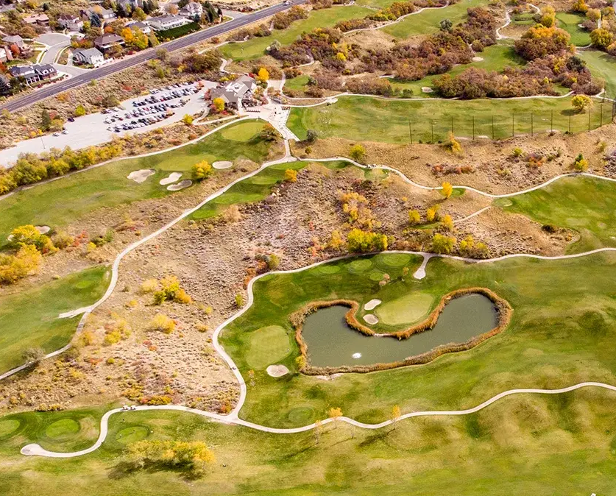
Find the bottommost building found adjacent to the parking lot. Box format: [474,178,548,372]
[209,74,274,108]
